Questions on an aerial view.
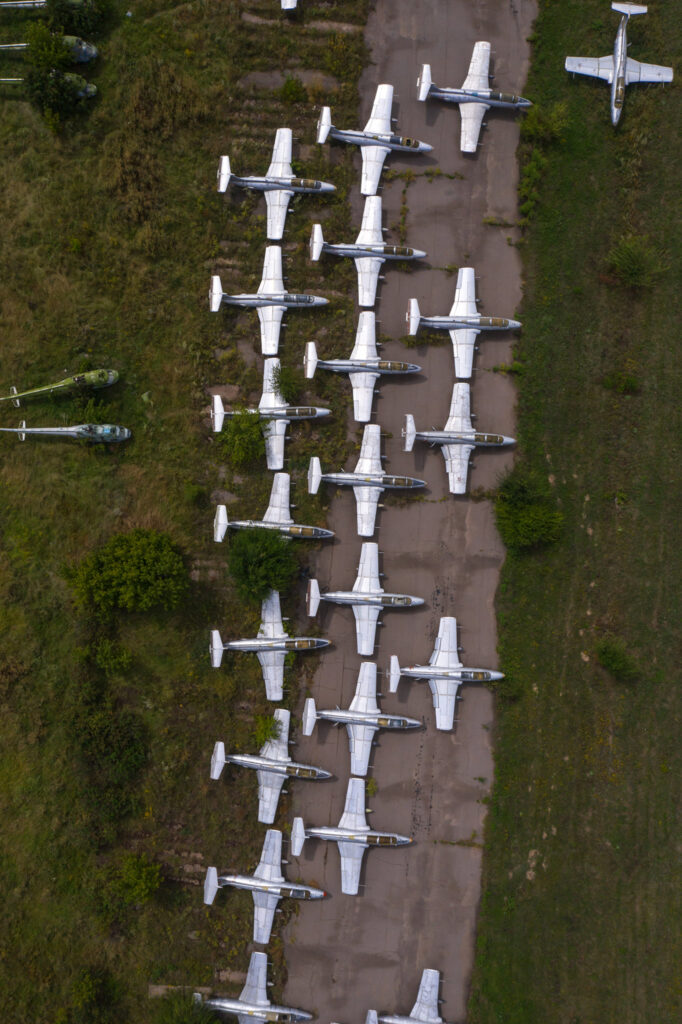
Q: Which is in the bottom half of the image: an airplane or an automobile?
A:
airplane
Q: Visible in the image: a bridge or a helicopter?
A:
helicopter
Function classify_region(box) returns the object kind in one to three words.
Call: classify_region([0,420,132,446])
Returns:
helicopter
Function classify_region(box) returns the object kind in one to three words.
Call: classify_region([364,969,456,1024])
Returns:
airplane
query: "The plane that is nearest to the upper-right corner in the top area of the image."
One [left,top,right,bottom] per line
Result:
[564,1,675,127]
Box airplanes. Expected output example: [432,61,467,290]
[204,829,326,944]
[210,588,331,701]
[364,969,456,1024]
[317,85,433,194]
[292,779,412,893]
[211,709,332,823]
[308,424,426,536]
[406,268,522,378]
[218,130,336,239]
[303,662,422,776]
[306,543,425,655]
[215,473,334,581]
[281,0,298,10]
[210,245,329,355]
[401,383,517,494]
[418,43,532,151]
[189,952,311,1024]
[309,196,426,306]
[304,311,422,422]
[387,617,504,730]
[564,1,675,127]
[212,359,331,469]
